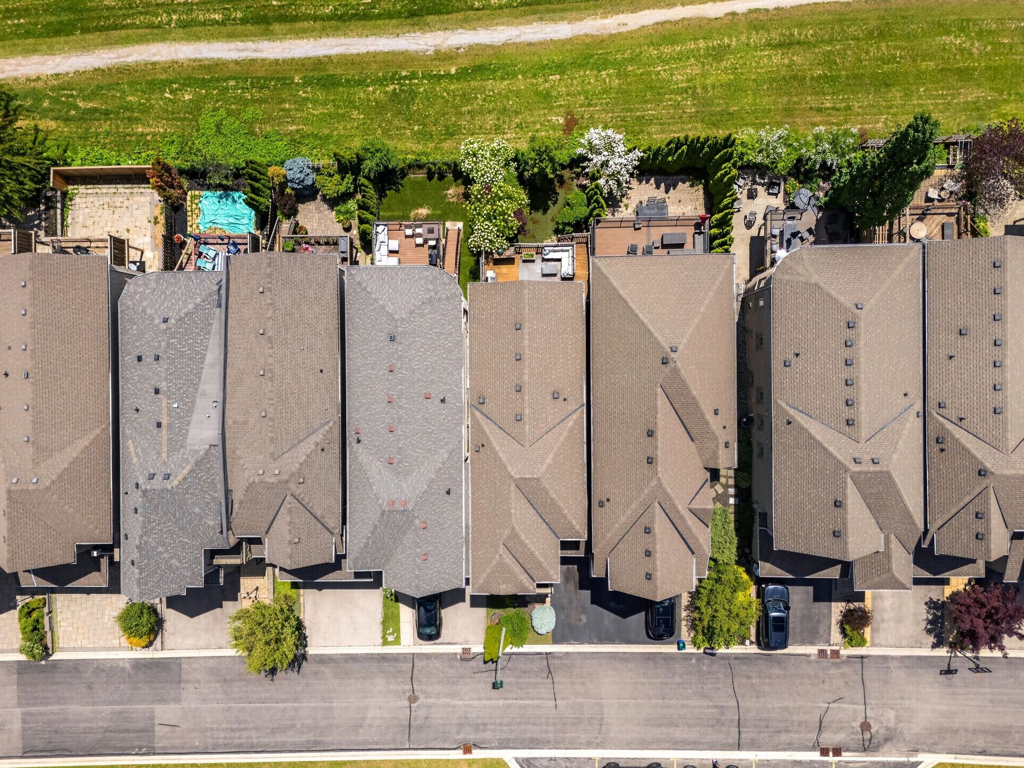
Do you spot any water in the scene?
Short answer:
No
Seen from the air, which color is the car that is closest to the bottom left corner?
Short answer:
black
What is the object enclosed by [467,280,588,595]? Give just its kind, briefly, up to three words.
house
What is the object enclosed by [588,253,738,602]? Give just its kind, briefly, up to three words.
house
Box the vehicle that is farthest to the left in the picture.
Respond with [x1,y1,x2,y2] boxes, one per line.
[414,593,444,641]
